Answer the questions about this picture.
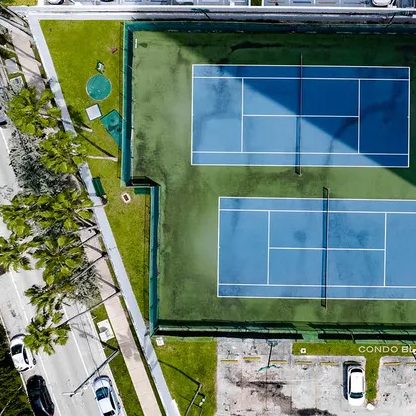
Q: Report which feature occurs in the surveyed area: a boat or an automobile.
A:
automobile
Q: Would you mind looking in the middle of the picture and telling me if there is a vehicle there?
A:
No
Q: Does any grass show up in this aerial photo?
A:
Yes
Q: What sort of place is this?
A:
sports ground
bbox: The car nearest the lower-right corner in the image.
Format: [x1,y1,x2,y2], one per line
[345,360,365,404]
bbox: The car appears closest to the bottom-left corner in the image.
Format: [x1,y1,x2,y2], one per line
[26,376,57,416]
